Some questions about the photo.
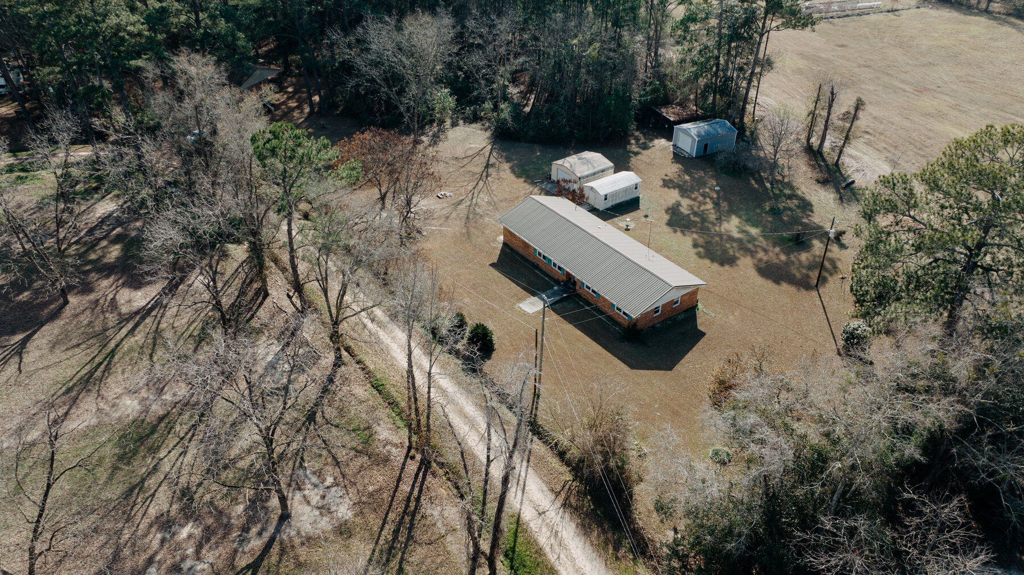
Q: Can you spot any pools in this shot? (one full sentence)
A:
No, I find no pool anywhere in the image.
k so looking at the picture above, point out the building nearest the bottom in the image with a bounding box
[495,195,708,334]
